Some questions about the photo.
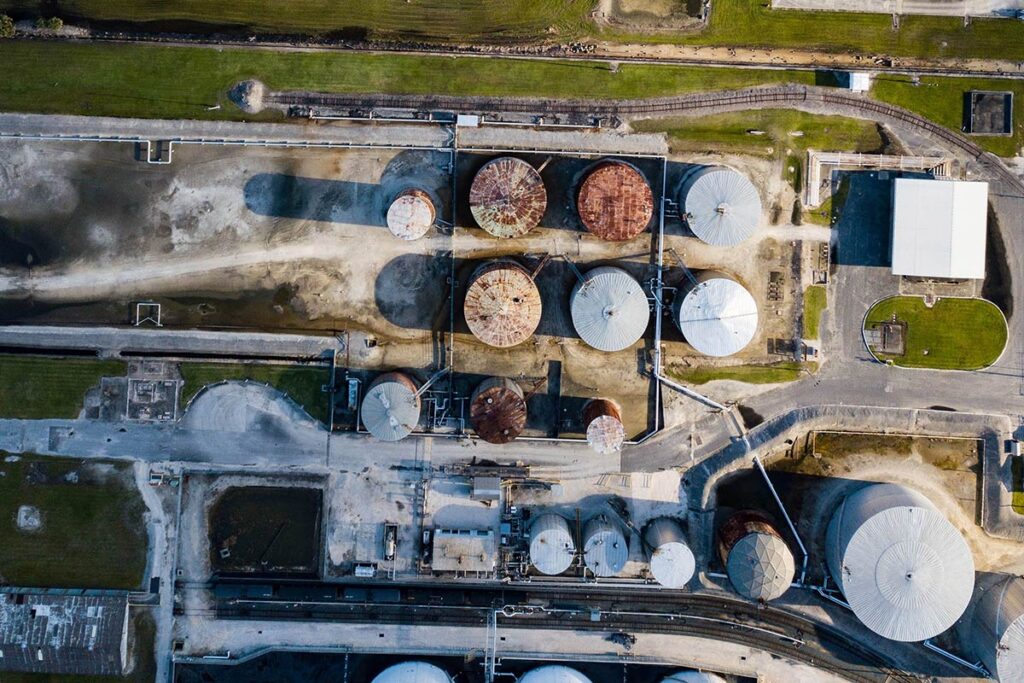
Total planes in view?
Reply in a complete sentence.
The photo contains no planes.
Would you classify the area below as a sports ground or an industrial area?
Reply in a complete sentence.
It's an industrial area.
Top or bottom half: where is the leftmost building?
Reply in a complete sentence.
The leftmost building sits in the bottom half of the picture.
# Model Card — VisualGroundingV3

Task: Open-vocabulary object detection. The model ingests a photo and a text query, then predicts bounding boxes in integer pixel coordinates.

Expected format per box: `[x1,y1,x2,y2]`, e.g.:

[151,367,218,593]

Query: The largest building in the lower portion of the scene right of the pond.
[433,530,494,571]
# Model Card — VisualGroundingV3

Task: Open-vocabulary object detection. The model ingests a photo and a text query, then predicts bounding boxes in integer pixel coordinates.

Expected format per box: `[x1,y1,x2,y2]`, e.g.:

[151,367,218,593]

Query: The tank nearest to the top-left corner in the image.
[387,186,451,240]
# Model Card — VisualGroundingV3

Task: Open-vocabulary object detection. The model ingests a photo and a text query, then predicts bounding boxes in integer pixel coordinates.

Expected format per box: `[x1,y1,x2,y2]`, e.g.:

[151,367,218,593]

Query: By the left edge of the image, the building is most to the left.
[0,581,135,675]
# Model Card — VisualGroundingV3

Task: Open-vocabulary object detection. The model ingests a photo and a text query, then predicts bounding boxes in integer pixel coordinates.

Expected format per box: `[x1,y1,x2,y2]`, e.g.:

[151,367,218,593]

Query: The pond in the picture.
[214,486,322,572]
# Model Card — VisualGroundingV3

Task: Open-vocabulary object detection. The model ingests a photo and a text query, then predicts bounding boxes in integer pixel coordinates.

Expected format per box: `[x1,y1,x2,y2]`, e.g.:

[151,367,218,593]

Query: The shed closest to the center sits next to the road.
[474,473,500,500]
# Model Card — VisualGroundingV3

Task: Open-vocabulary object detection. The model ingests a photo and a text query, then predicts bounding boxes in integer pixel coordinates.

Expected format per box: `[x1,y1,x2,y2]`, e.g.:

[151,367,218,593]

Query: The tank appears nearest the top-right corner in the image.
[676,163,762,247]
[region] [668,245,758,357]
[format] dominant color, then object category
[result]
white storage tank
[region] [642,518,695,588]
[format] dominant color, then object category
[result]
white storage tank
